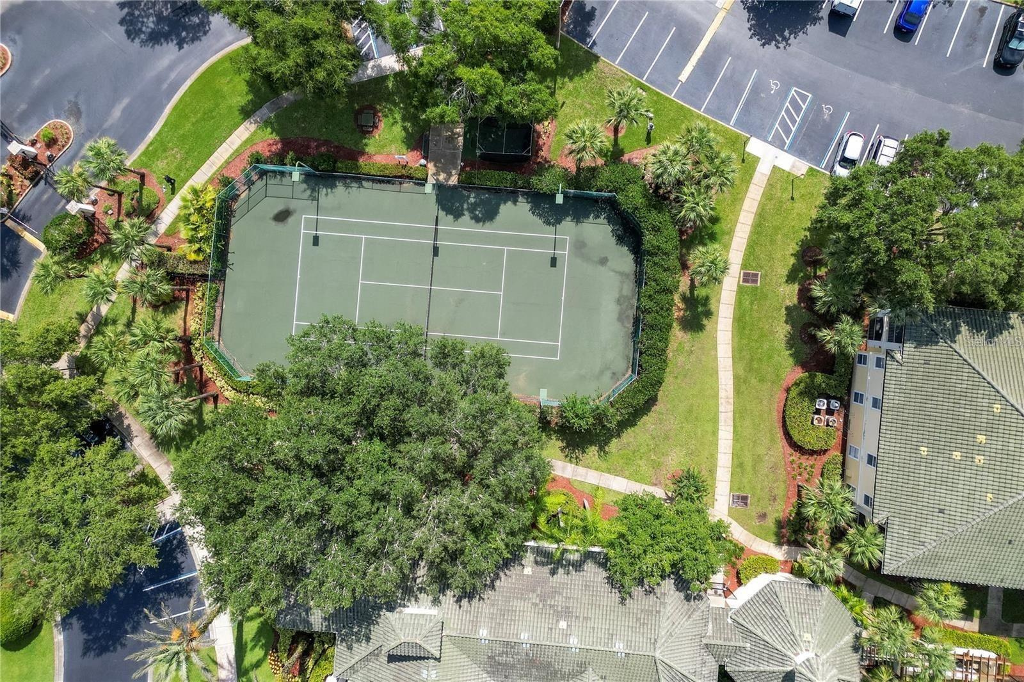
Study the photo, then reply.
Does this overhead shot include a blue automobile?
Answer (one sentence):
Yes, there's a blue automobile here.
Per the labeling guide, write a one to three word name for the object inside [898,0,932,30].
car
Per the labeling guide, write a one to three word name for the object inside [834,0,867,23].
car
